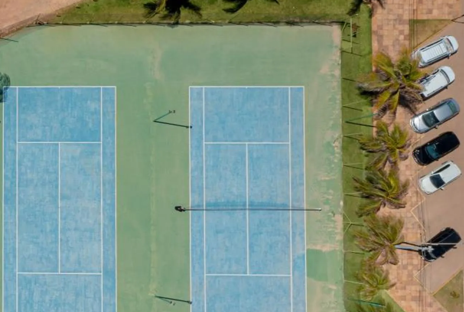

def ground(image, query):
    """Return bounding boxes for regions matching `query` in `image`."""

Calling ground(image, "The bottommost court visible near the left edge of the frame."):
[2,86,117,312]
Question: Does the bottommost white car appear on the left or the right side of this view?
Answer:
right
